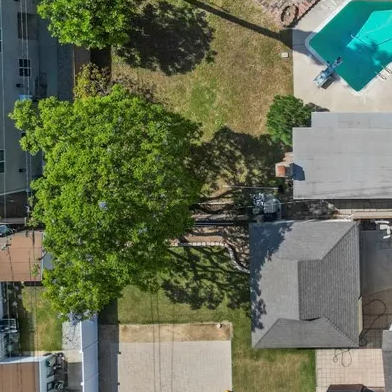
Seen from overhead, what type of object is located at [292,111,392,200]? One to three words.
building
